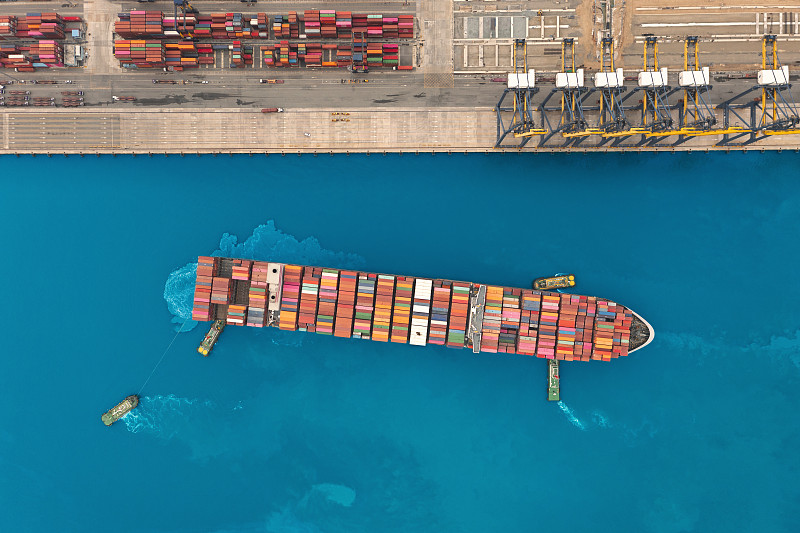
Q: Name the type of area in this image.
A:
port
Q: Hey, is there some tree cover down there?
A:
No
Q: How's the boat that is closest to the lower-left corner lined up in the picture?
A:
diagonally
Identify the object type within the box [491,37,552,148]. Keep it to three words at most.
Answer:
container crane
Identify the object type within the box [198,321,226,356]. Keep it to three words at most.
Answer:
boat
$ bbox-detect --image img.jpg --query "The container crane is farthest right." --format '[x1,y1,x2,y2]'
[709,36,800,148]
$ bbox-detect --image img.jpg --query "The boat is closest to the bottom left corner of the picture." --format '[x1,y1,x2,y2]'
[102,393,140,425]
